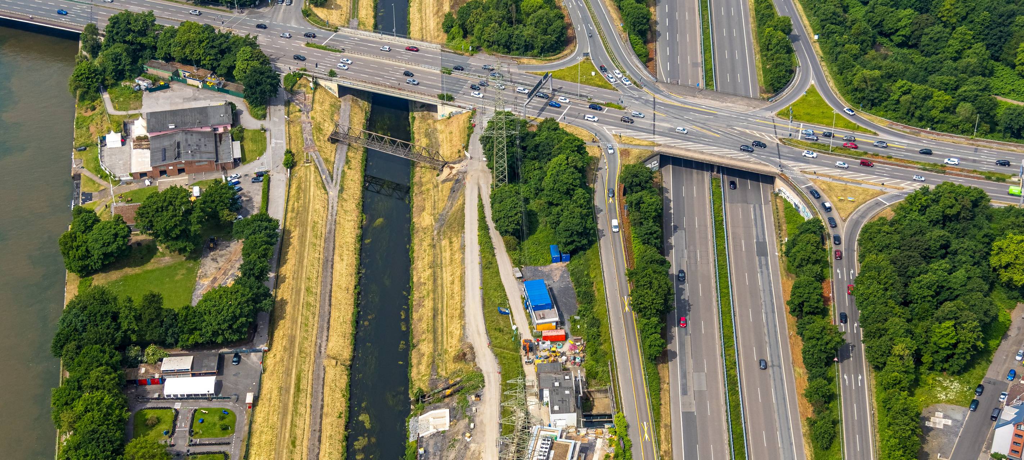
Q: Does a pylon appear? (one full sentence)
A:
Yes, the photo shows a pylon.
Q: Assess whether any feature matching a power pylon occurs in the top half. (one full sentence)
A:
Yes, a power pylon appears in the top half.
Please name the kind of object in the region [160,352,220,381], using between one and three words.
shed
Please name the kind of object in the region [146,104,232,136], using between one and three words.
building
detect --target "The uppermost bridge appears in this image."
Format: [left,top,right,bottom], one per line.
[0,8,88,37]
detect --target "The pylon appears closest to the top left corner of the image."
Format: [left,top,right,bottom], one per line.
[469,56,531,168]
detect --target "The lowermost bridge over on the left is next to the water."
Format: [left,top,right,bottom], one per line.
[328,126,448,177]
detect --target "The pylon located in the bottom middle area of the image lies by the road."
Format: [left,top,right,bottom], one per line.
[477,376,564,460]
